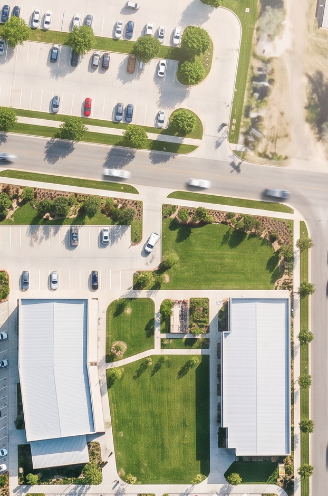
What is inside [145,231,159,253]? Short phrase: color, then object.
white vehicle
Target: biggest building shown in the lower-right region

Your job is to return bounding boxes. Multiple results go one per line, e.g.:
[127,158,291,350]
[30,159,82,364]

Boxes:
[220,298,291,456]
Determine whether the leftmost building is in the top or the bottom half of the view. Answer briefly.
bottom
